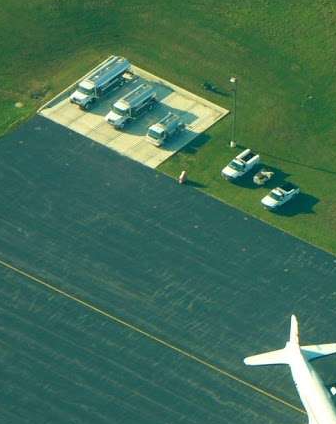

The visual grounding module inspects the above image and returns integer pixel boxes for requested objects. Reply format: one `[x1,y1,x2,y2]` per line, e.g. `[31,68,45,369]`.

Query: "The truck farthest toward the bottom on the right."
[259,185,301,213]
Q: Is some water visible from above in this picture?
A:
No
